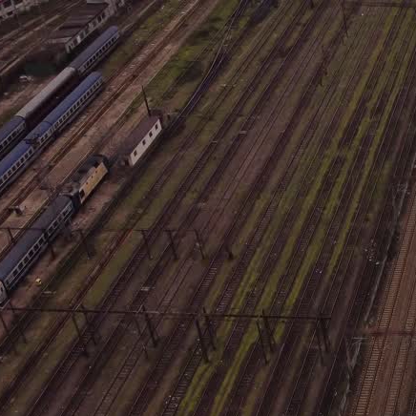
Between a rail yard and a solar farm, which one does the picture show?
rail yard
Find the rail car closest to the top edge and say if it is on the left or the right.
left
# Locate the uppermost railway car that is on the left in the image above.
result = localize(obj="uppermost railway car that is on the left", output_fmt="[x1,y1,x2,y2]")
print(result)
[68,27,124,81]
